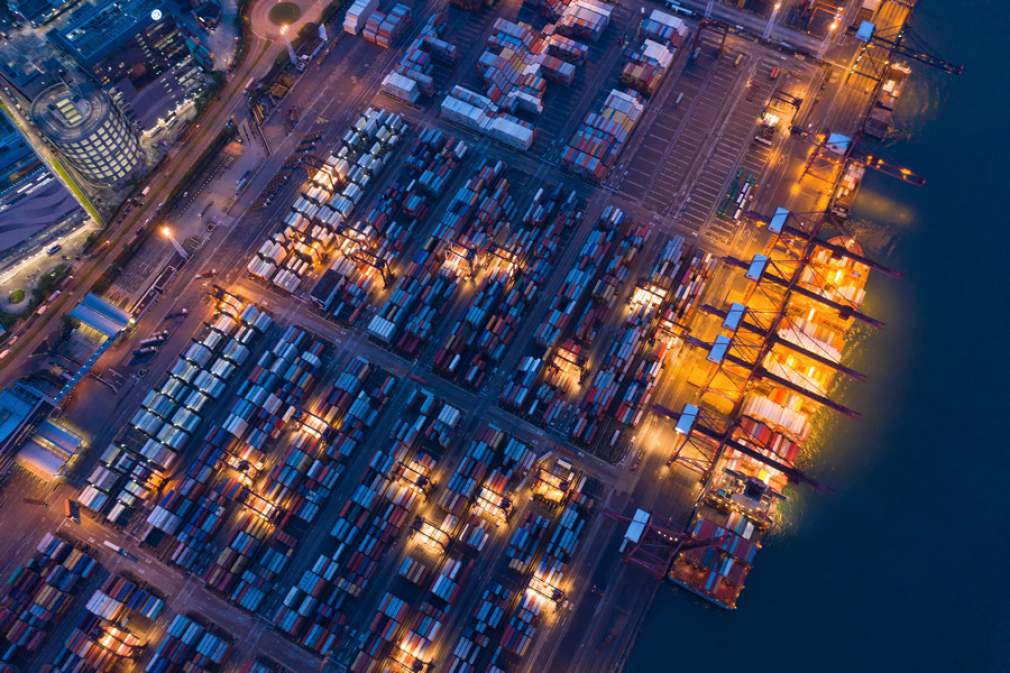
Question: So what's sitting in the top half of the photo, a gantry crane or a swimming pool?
gantry crane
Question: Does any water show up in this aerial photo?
Yes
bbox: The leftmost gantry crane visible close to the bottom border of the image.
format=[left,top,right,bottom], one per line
[97,616,155,655]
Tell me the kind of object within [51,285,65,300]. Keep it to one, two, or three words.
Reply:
vehicle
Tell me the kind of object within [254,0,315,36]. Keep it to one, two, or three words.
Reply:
roundabout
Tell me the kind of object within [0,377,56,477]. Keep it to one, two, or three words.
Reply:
building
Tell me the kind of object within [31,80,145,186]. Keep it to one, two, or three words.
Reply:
building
